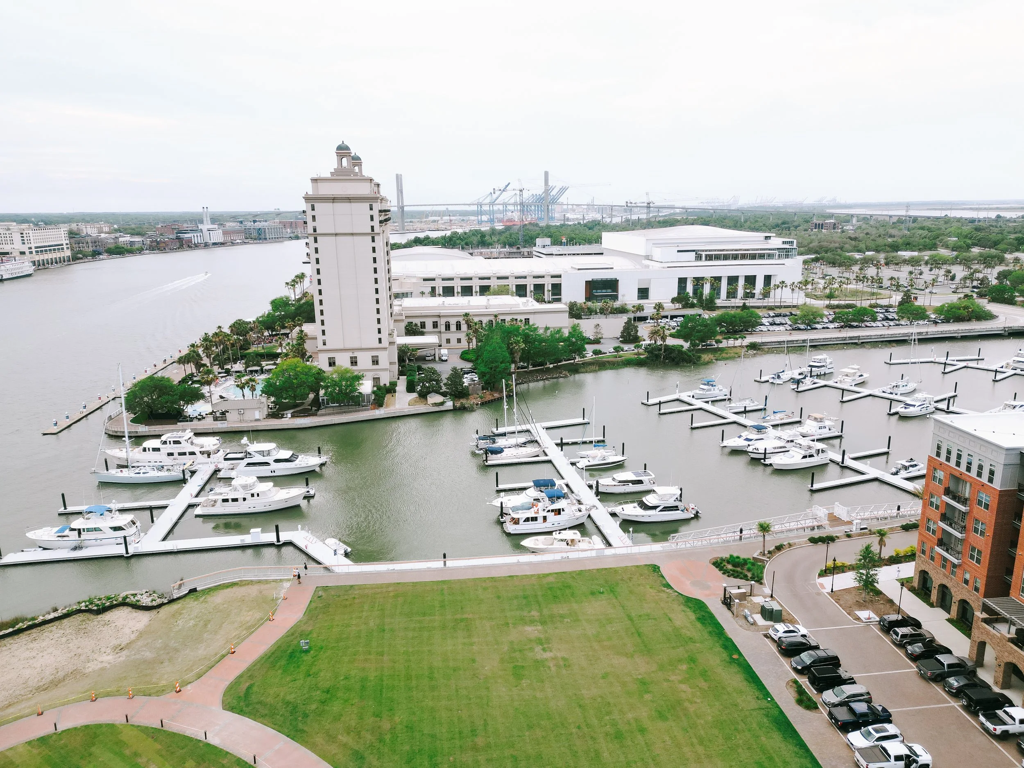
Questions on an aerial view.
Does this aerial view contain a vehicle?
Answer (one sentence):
Yes, I can see a vehicle in this picture.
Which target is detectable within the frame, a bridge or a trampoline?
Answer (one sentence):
This aerial view contains a bridge.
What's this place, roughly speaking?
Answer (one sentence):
The picture captures a port.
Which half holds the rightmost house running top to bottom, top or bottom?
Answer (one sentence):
The bottom half of the photo is where the rightmost house running top to bottom is.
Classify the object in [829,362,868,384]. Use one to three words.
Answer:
boat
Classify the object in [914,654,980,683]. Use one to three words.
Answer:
truck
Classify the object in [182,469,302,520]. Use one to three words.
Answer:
boat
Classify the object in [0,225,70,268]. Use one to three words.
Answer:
building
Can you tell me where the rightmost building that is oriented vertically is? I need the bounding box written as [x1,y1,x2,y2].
[913,412,1024,685]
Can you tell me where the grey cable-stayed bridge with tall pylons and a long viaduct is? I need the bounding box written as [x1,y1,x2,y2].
[108,171,1024,233]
